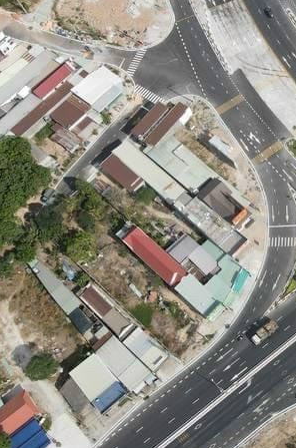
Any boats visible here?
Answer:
No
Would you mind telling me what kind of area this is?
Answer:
residential area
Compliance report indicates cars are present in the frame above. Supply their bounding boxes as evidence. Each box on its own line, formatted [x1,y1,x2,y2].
[264,6,274,18]
[40,187,54,200]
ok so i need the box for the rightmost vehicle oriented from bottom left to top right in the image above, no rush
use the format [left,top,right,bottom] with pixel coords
[250,316,279,344]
